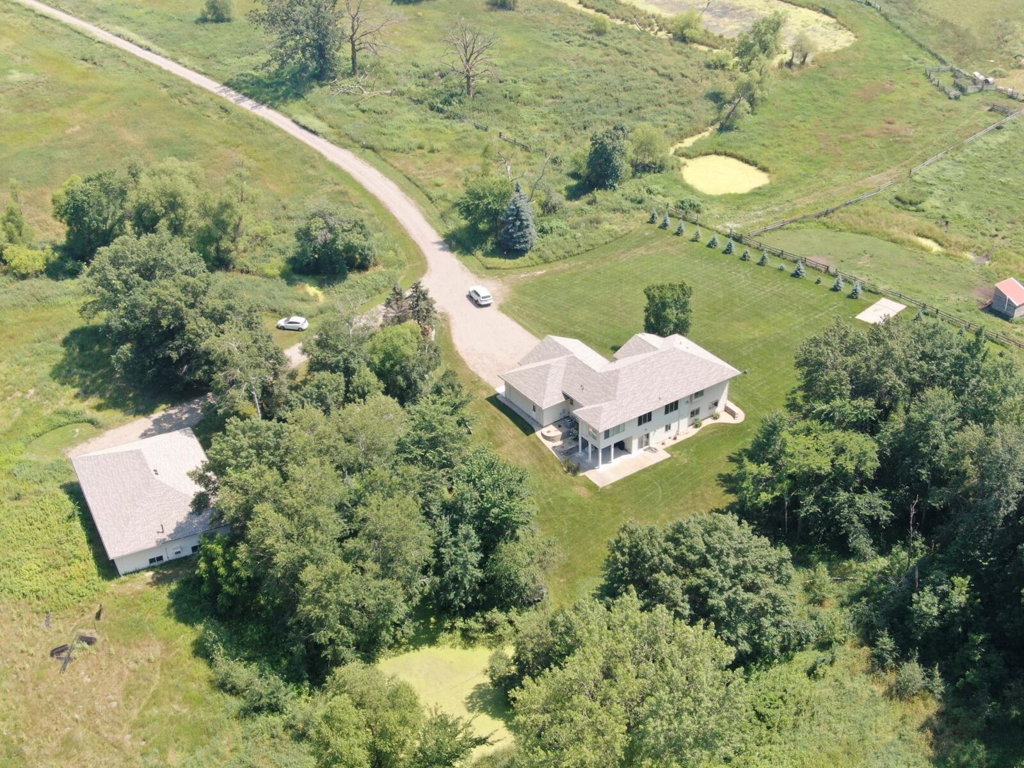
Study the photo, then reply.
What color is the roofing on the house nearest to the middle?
white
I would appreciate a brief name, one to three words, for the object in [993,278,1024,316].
shed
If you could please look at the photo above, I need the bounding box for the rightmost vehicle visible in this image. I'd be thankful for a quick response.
[469,288,494,307]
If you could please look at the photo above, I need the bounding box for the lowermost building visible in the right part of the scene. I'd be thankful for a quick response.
[496,333,742,468]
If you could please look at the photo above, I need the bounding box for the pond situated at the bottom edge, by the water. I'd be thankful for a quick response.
[359,621,536,768]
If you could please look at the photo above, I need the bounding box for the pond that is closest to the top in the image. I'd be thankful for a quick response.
[682,154,770,195]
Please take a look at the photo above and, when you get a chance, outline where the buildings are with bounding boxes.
[496,333,742,468]
[993,278,1024,316]
[69,428,240,574]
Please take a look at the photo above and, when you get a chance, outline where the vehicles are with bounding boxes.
[469,288,494,307]
[276,316,308,332]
